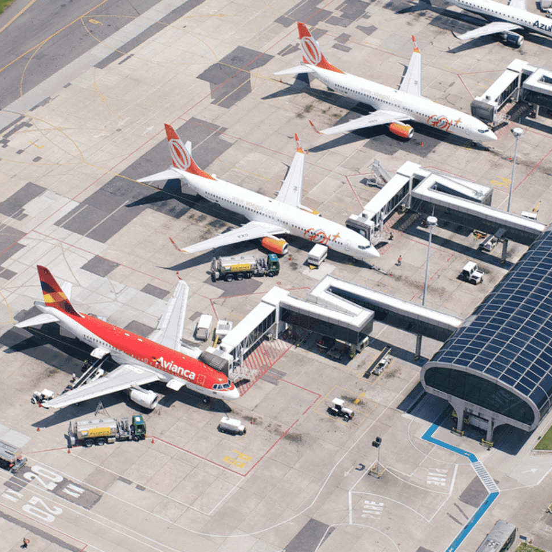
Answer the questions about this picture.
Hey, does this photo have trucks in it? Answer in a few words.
Yes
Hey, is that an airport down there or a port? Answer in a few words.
airport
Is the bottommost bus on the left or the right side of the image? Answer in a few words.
right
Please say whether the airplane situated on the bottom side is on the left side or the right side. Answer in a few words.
left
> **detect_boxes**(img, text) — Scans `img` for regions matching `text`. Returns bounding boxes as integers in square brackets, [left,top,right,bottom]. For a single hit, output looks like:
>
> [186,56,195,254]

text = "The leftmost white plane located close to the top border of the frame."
[274,23,493,147]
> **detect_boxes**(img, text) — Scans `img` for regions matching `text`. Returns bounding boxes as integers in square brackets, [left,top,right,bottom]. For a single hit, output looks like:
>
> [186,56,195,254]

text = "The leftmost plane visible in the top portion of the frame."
[135,124,377,263]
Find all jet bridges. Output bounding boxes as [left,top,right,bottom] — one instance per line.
[466,60,552,144]
[205,275,464,398]
[347,162,549,264]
